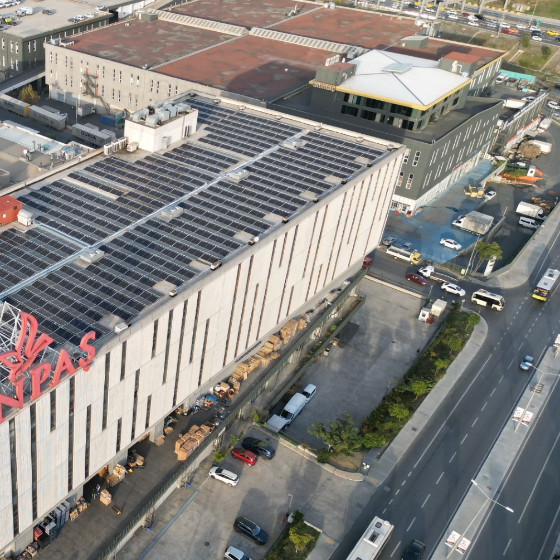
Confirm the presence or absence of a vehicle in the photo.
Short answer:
Yes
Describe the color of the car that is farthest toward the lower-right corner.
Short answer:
black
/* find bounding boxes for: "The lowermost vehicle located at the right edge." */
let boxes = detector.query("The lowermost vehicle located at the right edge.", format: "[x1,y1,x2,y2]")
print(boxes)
[518,350,537,370]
